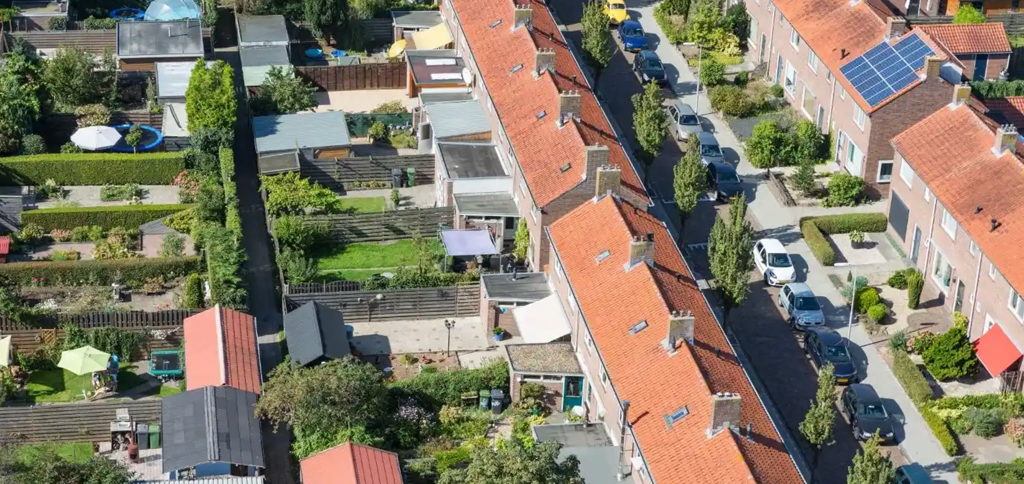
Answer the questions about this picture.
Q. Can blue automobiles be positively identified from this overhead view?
Yes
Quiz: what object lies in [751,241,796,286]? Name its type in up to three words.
car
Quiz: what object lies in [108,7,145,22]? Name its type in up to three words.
trampoline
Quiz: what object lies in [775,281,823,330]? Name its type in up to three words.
car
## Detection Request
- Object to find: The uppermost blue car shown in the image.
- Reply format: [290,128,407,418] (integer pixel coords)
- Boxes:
[613,19,645,52]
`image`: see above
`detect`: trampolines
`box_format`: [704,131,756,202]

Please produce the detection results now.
[146,351,179,387]
[111,126,163,154]
[108,7,145,22]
